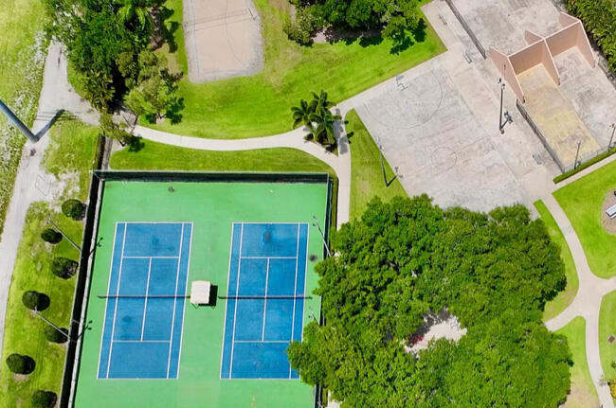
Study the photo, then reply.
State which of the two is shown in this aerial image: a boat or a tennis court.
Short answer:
tennis court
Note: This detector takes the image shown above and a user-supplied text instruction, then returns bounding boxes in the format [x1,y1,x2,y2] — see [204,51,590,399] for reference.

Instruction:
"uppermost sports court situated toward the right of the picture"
[433,0,564,78]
